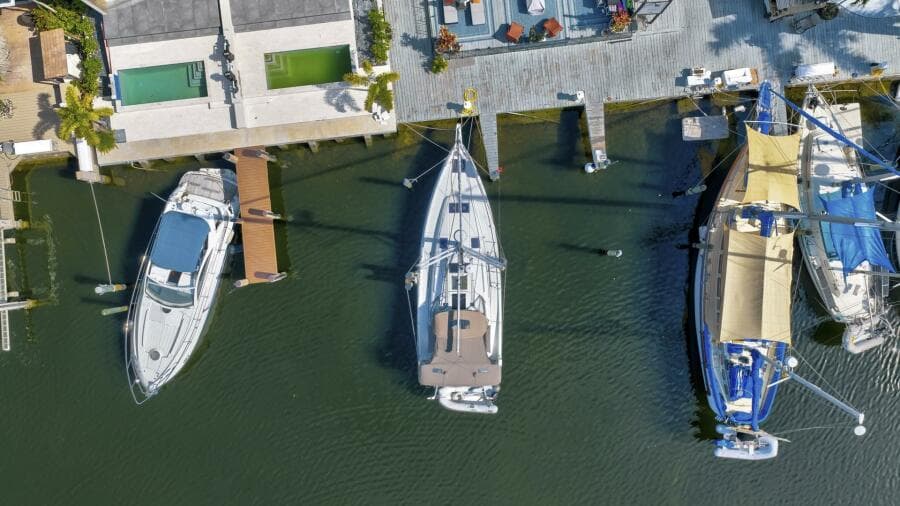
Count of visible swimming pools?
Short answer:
two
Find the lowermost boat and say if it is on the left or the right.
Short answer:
right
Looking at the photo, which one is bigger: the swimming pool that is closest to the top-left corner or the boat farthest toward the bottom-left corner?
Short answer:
the boat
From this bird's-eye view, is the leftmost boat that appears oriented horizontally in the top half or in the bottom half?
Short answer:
bottom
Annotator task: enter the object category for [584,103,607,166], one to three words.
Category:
pier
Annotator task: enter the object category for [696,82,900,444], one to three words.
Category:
boat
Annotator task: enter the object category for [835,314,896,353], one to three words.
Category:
boat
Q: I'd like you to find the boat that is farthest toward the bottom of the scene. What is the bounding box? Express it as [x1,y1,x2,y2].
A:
[711,425,783,460]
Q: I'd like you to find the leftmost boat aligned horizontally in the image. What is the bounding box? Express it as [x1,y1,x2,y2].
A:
[435,387,502,414]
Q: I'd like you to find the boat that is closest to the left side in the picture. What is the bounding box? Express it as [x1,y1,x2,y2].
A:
[127,168,240,403]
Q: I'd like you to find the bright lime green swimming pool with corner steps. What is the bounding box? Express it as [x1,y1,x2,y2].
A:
[258,41,356,92]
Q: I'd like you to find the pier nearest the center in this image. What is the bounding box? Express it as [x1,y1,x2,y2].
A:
[478,116,499,180]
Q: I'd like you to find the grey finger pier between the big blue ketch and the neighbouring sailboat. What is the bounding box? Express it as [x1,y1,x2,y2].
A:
[771,87,790,134]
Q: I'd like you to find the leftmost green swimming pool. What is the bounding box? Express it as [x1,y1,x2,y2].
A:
[114,58,214,108]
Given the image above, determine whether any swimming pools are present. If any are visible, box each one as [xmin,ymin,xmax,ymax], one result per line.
[258,41,356,92]
[114,58,214,108]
